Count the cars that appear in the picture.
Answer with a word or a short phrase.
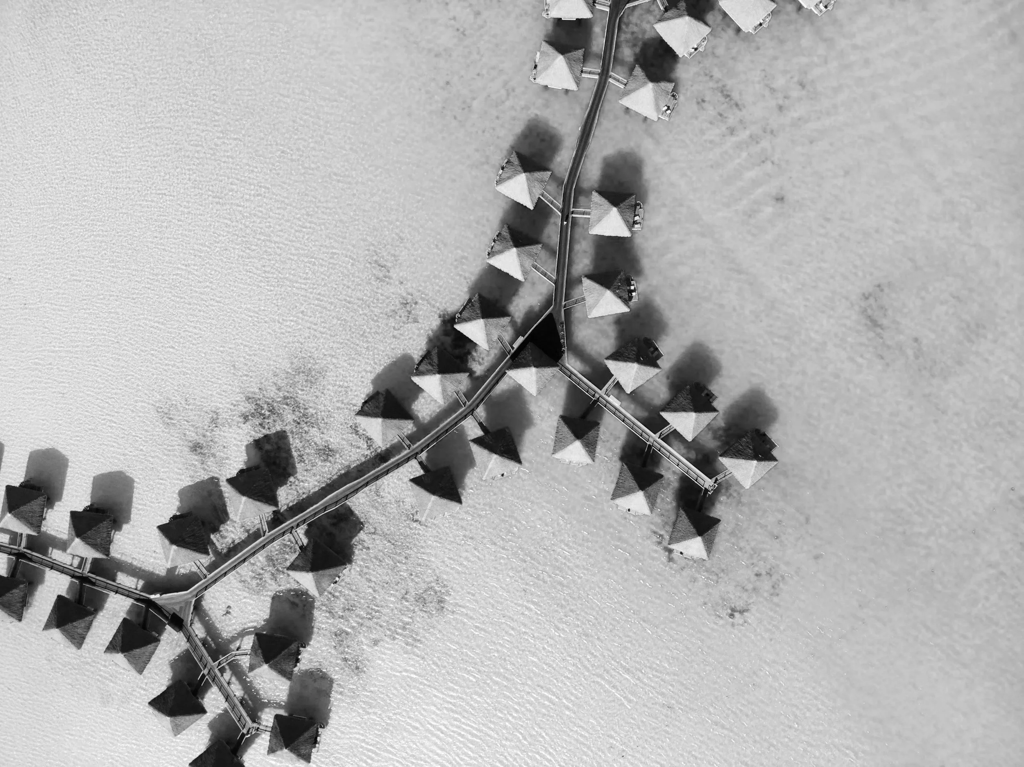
zero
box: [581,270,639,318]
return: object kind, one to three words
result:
house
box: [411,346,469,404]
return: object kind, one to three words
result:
house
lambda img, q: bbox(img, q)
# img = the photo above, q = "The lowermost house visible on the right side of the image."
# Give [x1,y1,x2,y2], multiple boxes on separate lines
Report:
[668,507,721,560]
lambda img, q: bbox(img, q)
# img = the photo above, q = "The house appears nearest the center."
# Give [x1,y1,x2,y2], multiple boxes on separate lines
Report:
[503,340,562,399]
